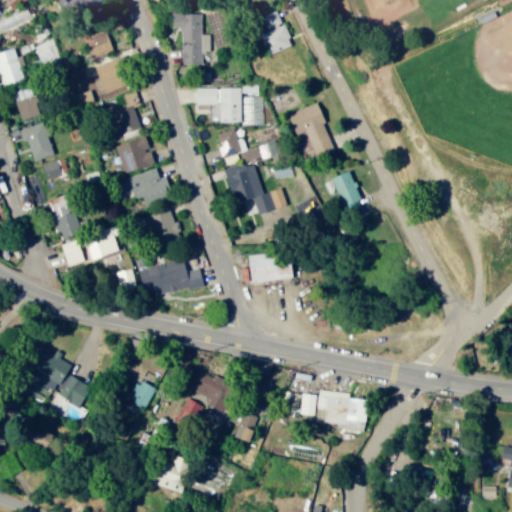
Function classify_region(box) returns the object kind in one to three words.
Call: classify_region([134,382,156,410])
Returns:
house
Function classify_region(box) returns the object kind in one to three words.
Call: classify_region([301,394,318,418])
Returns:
building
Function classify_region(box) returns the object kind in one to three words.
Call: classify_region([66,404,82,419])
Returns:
swimming pool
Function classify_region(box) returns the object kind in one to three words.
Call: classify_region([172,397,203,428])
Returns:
house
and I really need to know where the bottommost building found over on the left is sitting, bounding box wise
[158,456,184,494]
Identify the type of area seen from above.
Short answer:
residential area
